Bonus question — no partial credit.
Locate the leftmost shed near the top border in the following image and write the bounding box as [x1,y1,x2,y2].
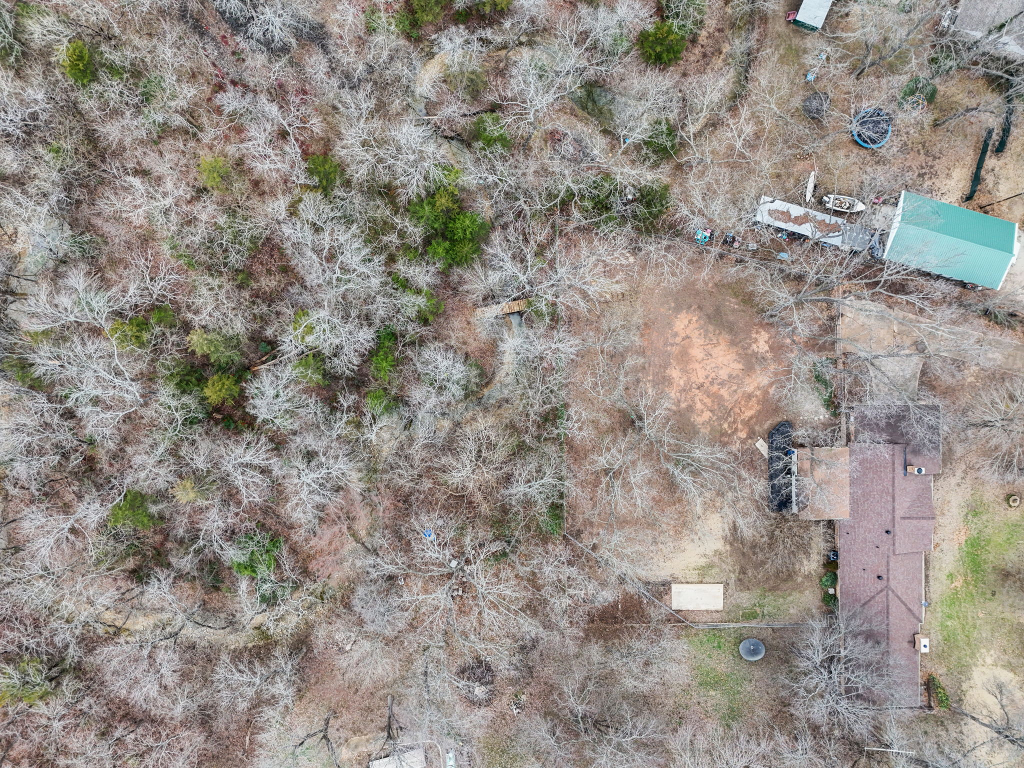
[791,0,832,35]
